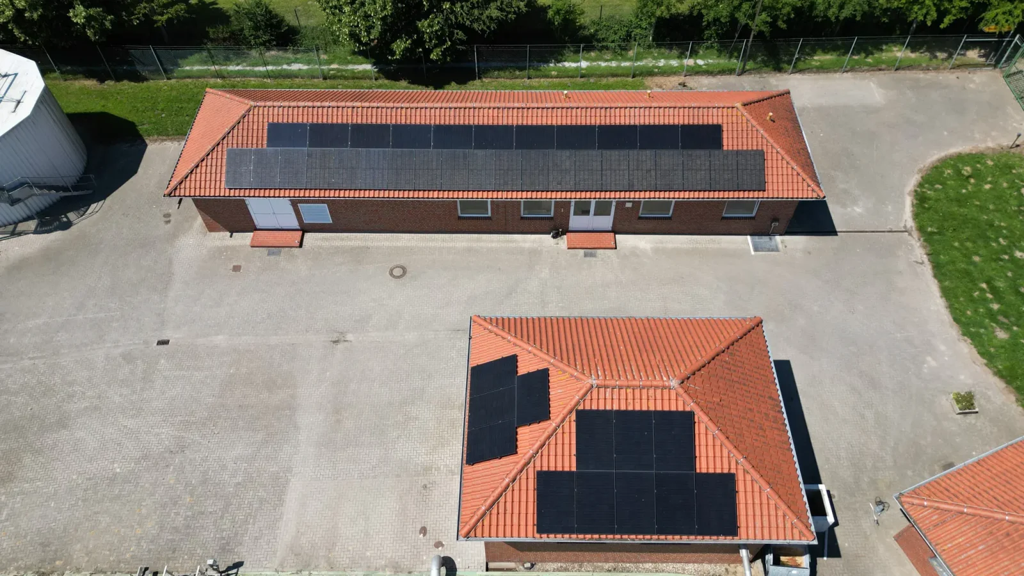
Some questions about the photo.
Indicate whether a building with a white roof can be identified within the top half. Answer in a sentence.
No, within the top half there is no building with a white roof.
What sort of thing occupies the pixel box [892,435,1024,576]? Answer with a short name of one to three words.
building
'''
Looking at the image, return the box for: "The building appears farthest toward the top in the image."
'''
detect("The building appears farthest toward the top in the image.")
[160,87,830,235]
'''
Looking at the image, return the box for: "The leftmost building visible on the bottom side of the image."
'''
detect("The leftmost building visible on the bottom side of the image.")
[454,312,823,563]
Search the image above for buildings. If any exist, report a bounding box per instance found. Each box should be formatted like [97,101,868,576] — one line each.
[454,312,823,563]
[160,87,830,235]
[892,435,1024,576]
